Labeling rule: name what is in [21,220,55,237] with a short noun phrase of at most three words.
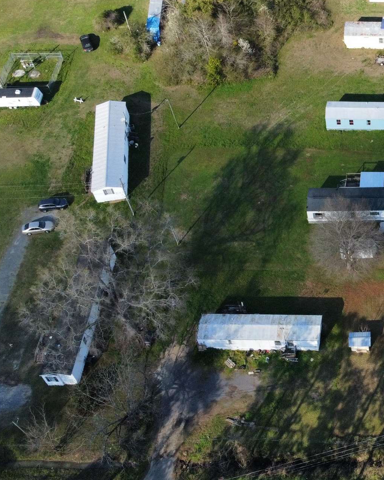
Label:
car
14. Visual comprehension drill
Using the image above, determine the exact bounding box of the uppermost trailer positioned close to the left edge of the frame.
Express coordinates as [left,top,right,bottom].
[0,85,47,107]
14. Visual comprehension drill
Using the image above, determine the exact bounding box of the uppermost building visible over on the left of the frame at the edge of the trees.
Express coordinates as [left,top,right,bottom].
[85,99,139,204]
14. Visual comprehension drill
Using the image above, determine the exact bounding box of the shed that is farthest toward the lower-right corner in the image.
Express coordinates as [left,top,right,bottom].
[349,330,371,356]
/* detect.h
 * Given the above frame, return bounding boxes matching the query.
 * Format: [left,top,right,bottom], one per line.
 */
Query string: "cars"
[80,35,94,54]
[37,197,70,214]
[21,220,55,237]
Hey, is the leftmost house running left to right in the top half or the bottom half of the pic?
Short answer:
bottom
